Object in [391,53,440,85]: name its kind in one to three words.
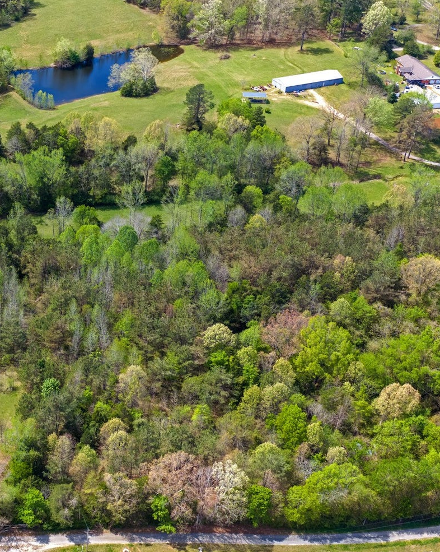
house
